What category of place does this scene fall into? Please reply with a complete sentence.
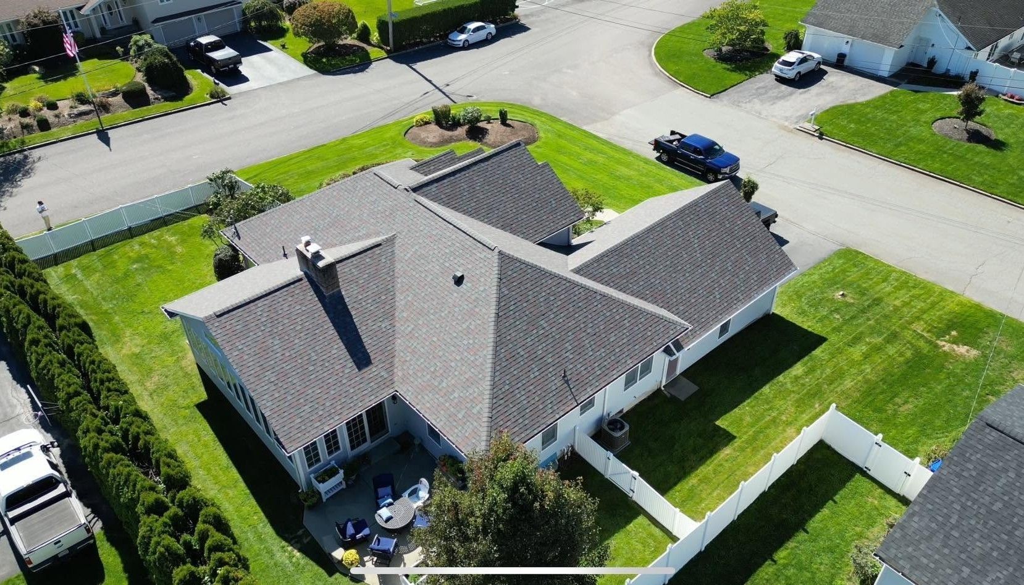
This looks like a residential area.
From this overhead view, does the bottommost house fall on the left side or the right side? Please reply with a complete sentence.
You can find the bottommost house on the right side of the picture.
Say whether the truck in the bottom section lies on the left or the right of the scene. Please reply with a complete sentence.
It is on the left.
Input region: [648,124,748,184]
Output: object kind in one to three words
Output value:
truck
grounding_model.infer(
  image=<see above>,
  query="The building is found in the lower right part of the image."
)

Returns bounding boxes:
[868,385,1024,585]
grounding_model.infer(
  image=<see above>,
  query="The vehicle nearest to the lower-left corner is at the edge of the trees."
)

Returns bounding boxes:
[0,435,94,580]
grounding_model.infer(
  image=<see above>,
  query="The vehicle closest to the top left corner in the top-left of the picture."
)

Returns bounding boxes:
[187,36,243,73]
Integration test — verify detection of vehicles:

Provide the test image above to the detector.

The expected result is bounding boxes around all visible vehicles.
[746,201,781,236]
[444,22,498,49]
[648,124,748,184]
[771,48,824,81]
[187,36,243,73]
[0,435,94,580]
